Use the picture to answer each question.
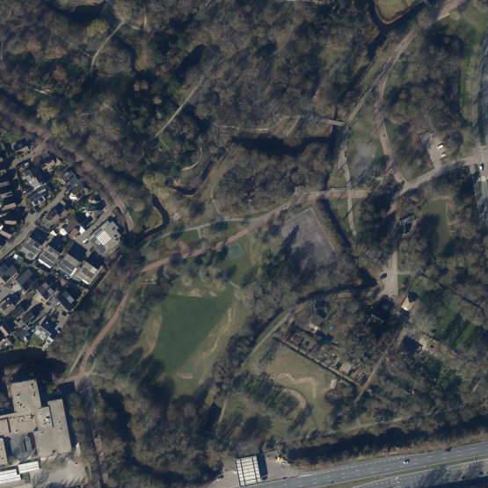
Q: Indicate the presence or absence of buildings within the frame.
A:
Yes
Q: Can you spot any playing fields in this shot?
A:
Yes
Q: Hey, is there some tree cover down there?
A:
Yes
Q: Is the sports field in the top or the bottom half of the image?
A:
bottom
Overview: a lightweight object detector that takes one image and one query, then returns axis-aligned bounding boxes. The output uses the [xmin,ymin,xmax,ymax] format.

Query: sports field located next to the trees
[155,290,236,373]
